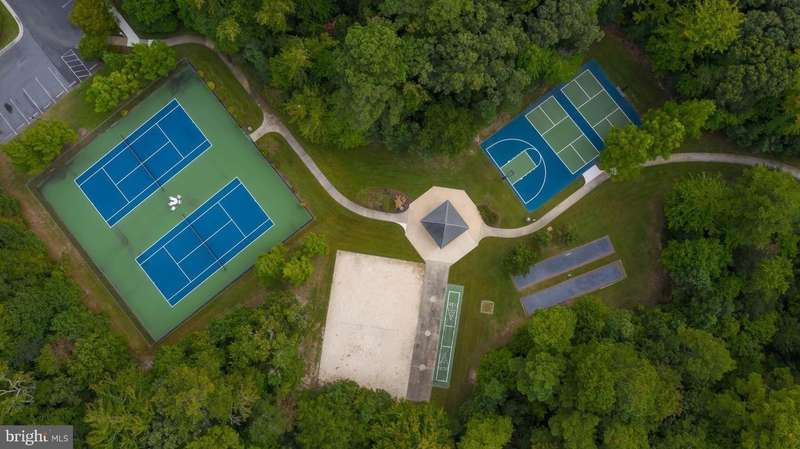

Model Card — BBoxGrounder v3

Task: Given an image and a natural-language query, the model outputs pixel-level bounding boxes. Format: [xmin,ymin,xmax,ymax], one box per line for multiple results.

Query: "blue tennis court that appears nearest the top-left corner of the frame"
[75,98,212,227]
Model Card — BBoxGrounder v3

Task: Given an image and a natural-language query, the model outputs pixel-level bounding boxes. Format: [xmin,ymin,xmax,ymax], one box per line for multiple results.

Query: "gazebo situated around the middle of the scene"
[420,200,470,249]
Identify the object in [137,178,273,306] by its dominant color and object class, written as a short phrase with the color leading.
blue tennis court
